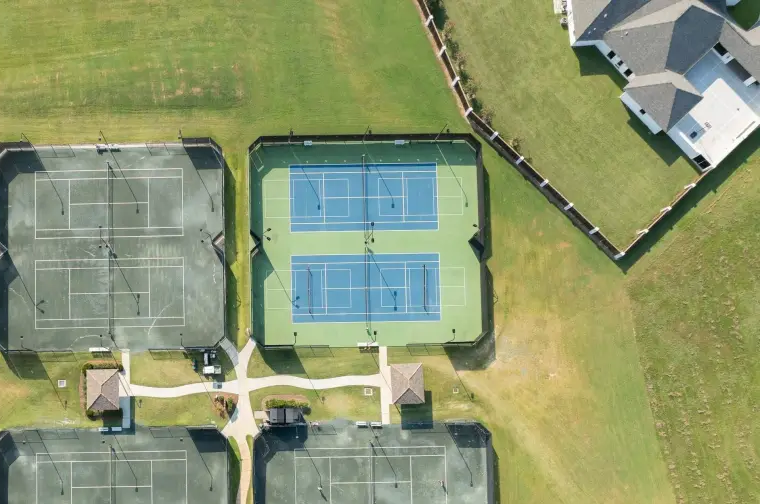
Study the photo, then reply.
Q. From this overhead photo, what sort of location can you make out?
sports ground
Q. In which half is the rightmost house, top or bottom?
top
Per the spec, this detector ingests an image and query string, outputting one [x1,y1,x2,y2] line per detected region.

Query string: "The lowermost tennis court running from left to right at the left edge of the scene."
[0,426,231,504]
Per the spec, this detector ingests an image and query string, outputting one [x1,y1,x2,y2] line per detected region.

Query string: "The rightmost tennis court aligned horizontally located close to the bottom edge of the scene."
[252,420,489,504]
